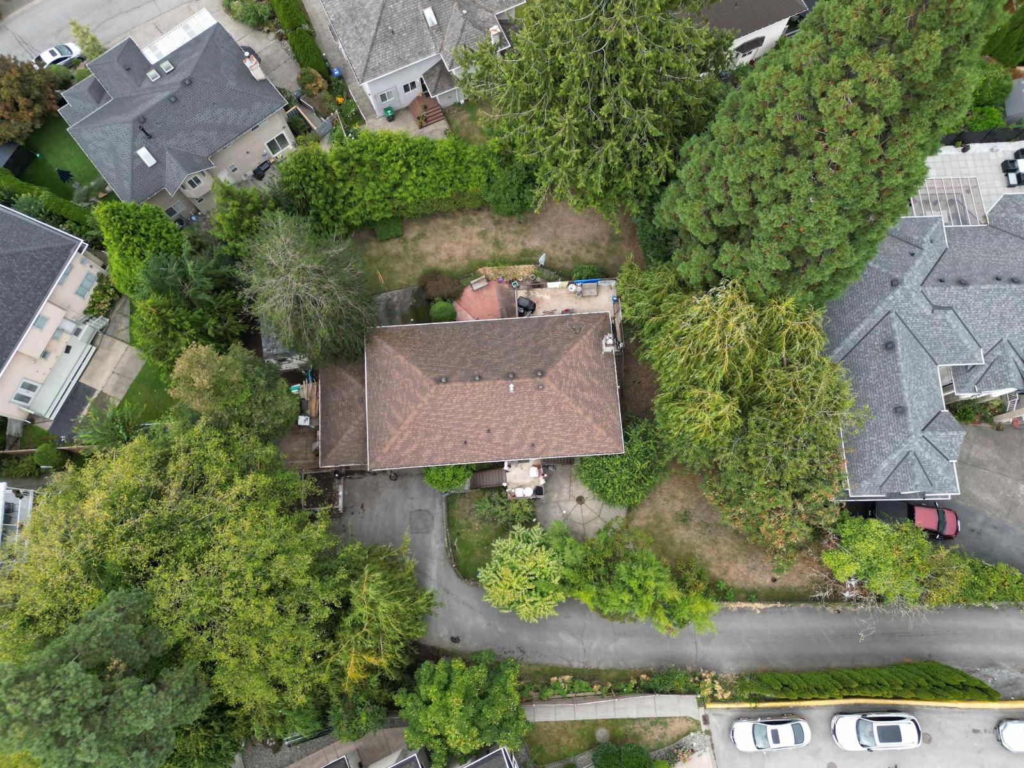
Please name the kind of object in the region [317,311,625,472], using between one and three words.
house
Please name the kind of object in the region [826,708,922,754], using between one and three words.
car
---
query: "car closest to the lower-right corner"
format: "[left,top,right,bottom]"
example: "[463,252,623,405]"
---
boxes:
[988,713,1024,753]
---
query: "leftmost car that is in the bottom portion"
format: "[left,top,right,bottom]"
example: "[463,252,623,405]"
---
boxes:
[727,712,811,754]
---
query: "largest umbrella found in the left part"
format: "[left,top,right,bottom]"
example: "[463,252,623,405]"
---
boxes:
[57,165,79,188]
